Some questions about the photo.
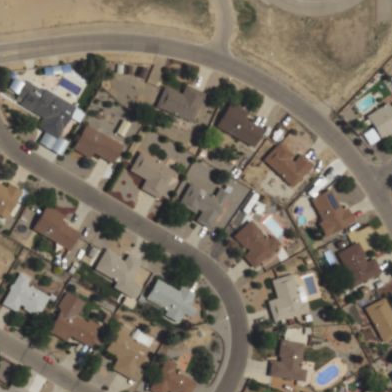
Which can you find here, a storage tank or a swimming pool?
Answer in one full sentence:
Looking from above, you can make out a swimming pool.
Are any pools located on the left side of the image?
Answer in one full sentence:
No, I can find no pool on the left side of the image.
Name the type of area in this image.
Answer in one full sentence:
This looks like a residential area.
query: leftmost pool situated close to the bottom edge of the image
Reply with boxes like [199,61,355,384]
[312,360,343,388]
